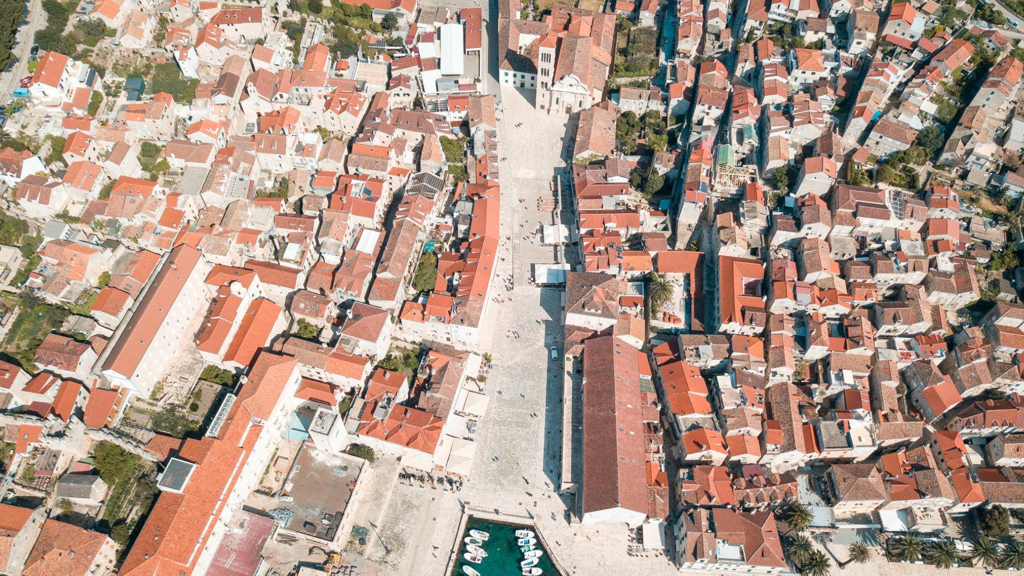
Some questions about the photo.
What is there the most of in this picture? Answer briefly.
buildings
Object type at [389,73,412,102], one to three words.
house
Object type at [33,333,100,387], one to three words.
house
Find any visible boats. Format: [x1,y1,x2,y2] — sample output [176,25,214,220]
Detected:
[516,538,540,546]
[462,537,485,547]
[517,545,537,554]
[458,564,484,576]
[520,549,547,560]
[465,545,489,559]
[469,530,492,541]
[518,555,545,569]
[458,553,485,564]
[512,529,536,538]
[520,567,547,576]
